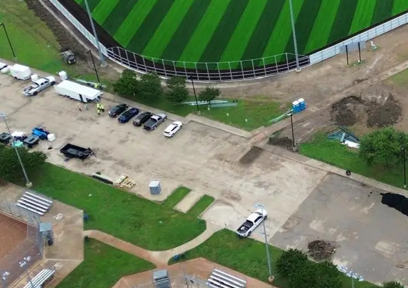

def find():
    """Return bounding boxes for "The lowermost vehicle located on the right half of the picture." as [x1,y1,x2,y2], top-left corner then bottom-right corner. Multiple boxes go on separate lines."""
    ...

[235,209,267,236]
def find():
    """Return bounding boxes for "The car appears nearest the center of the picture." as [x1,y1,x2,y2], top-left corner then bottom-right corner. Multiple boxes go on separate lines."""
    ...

[163,122,183,137]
